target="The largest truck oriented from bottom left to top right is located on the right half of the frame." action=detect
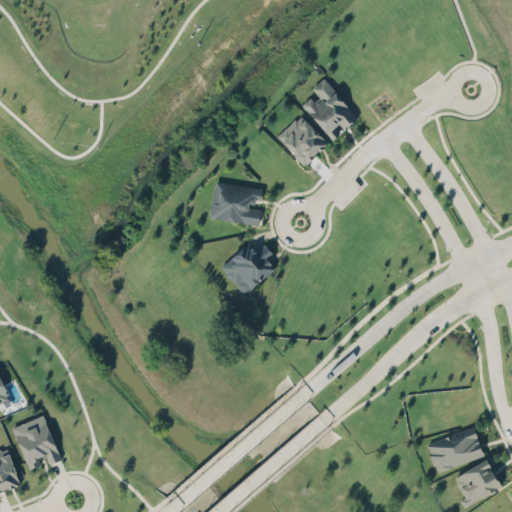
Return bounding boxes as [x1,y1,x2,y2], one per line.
[328,354,356,378]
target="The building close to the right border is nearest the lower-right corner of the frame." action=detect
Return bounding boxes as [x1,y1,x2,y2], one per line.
[456,461,504,512]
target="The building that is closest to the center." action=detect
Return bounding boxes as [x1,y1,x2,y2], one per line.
[223,237,278,296]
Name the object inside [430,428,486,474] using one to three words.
house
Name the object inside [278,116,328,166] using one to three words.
house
